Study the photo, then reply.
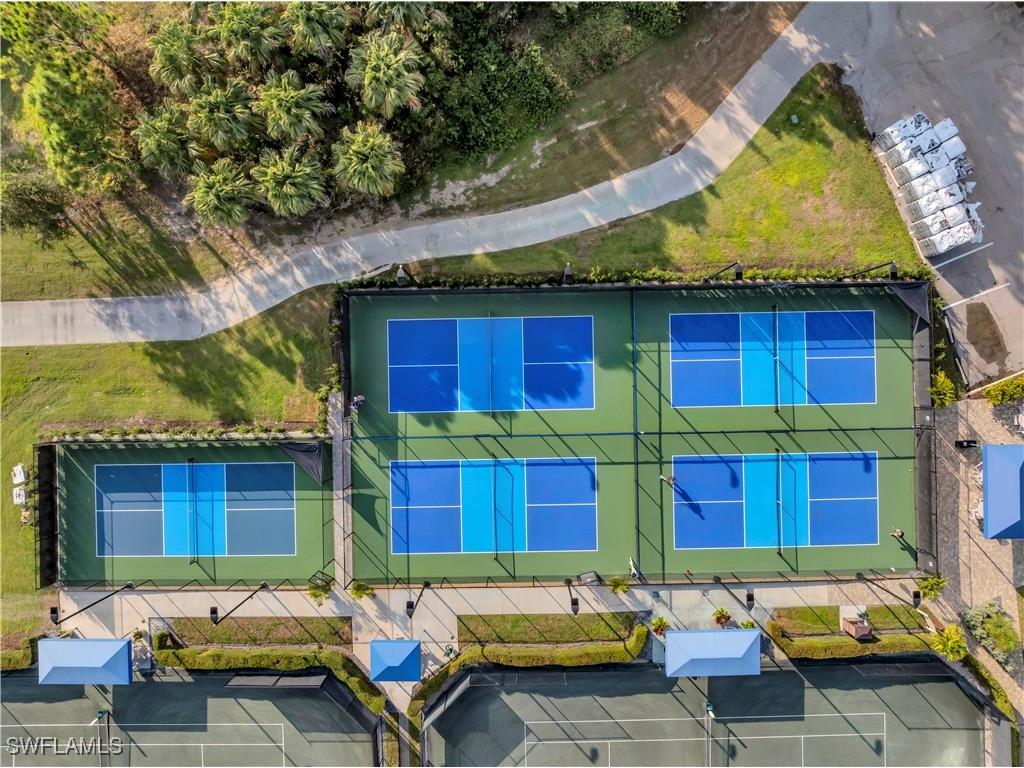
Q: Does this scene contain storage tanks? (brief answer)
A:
No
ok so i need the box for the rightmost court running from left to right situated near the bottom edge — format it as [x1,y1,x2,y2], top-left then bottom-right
[430,657,984,768]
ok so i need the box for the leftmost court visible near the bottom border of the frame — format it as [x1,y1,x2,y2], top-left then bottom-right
[0,661,386,768]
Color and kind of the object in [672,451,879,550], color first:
blue sports court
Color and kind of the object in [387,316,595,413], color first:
blue sports court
